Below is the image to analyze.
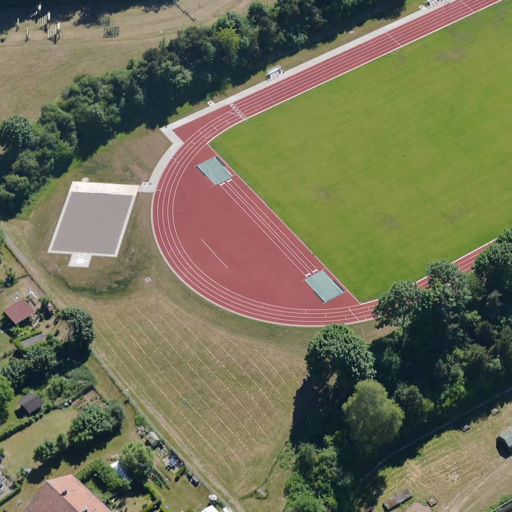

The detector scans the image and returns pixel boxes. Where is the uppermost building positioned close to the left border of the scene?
[3,299,34,328]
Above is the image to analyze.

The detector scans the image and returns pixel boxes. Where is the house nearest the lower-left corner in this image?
[24,474,109,512]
